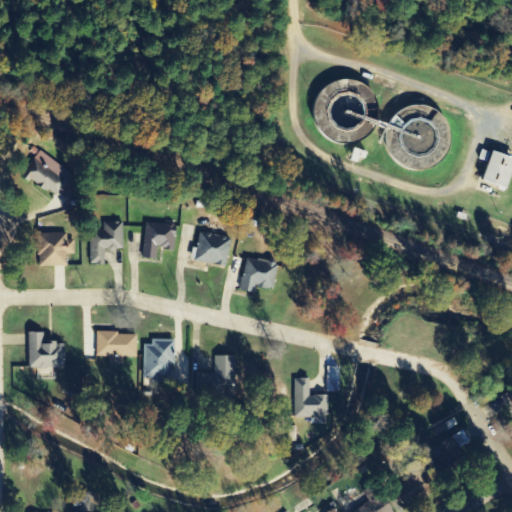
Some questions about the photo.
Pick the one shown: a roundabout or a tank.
tank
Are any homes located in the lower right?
Yes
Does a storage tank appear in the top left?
No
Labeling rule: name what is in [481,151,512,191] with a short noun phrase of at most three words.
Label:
building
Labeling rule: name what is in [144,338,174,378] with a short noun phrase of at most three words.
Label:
house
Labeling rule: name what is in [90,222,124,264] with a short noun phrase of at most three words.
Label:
house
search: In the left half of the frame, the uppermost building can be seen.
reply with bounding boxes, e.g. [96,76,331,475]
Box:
[30,152,64,196]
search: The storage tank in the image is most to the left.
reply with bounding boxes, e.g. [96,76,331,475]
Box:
[314,78,378,144]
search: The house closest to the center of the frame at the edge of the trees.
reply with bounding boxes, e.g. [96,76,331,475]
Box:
[240,258,276,290]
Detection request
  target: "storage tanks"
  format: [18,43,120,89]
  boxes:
[384,104,451,170]
[314,78,378,144]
